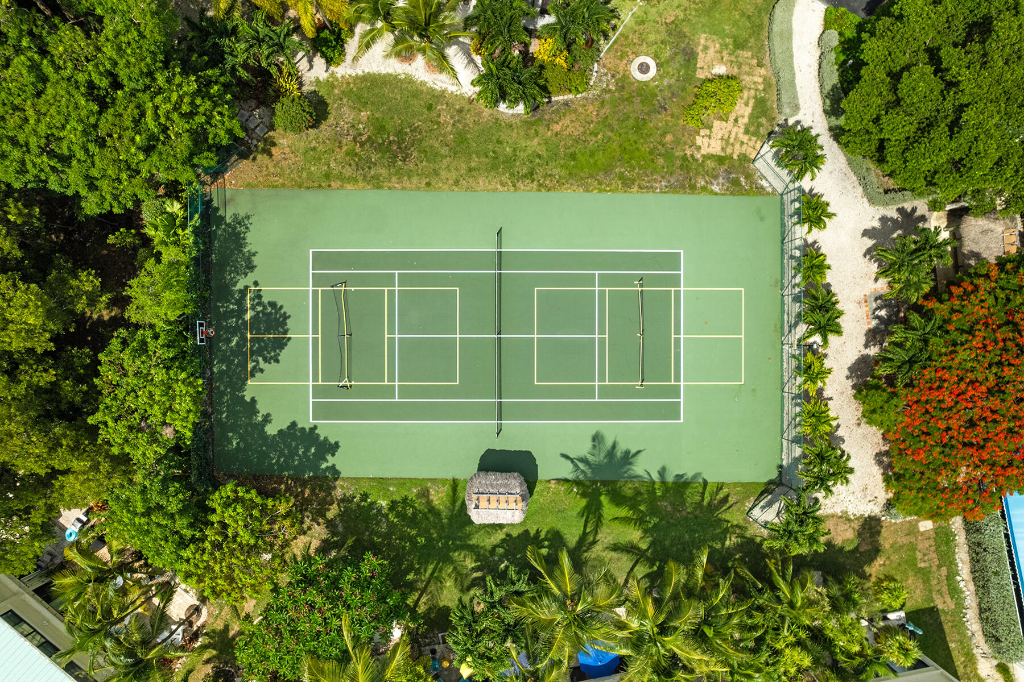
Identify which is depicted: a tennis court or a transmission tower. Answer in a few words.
tennis court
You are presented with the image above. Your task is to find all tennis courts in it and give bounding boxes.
[211,189,785,483]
